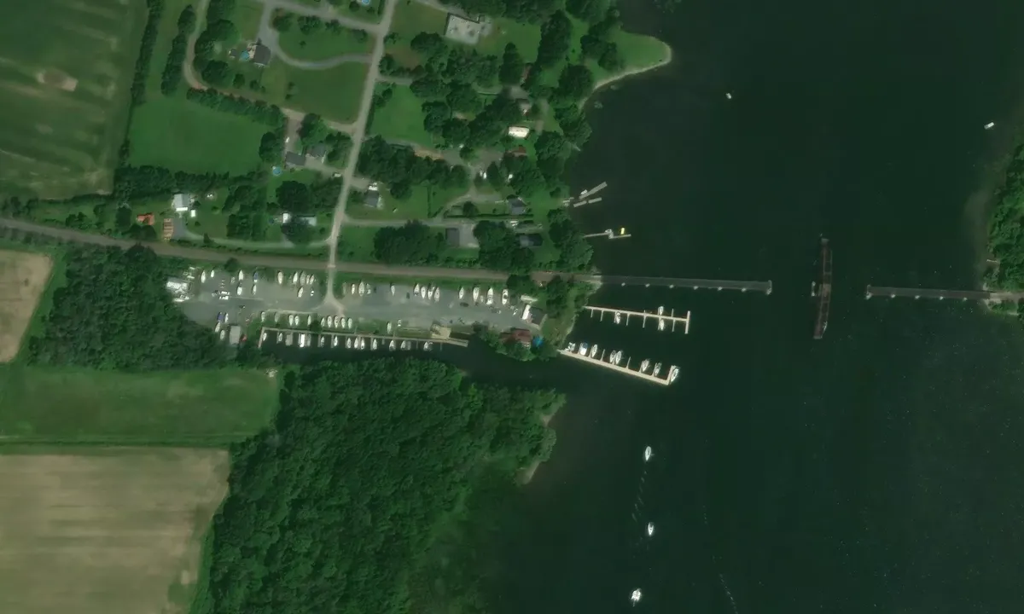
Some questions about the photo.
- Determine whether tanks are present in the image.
No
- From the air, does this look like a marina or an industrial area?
marina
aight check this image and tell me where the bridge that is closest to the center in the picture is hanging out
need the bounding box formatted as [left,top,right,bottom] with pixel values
[590,274,773,293]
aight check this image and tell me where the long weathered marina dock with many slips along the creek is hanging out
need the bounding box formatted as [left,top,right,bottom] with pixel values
[258,327,468,351]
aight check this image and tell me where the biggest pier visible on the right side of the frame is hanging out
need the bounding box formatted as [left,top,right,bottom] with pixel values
[558,343,674,386]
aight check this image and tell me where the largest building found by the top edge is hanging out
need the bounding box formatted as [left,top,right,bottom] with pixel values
[445,14,479,45]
